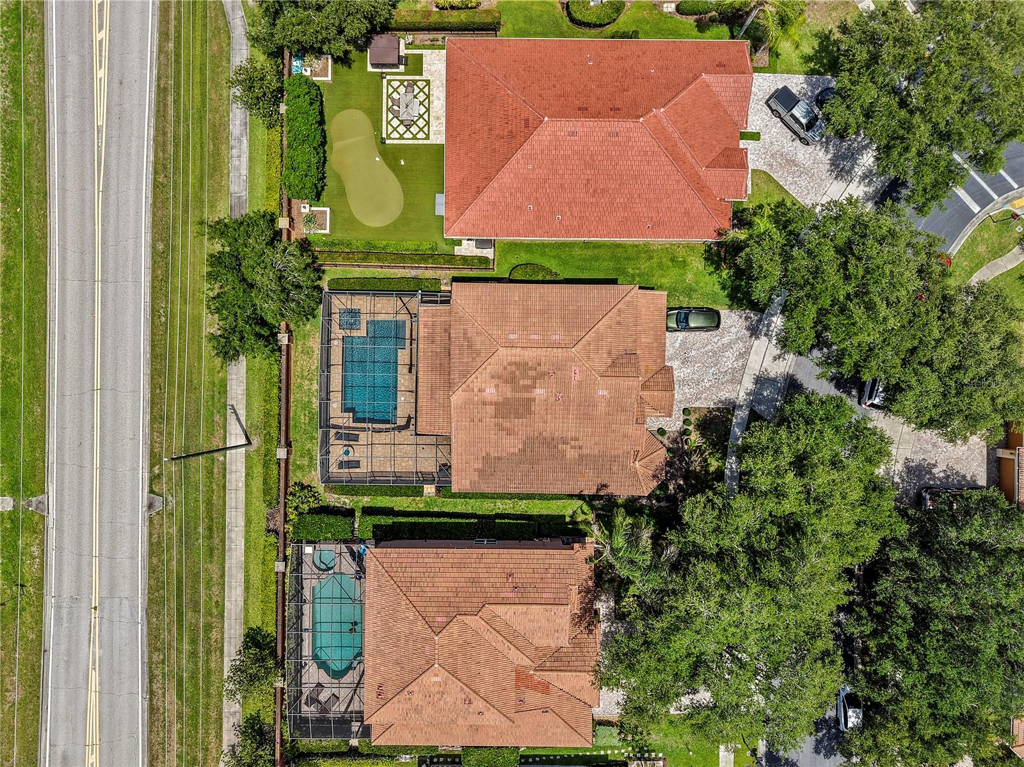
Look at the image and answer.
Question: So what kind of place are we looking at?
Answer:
residential area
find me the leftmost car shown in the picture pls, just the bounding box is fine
[666,305,723,334]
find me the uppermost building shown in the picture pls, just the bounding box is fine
[444,37,752,243]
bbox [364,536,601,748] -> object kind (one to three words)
house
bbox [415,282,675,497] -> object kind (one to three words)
house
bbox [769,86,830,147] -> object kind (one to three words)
truck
